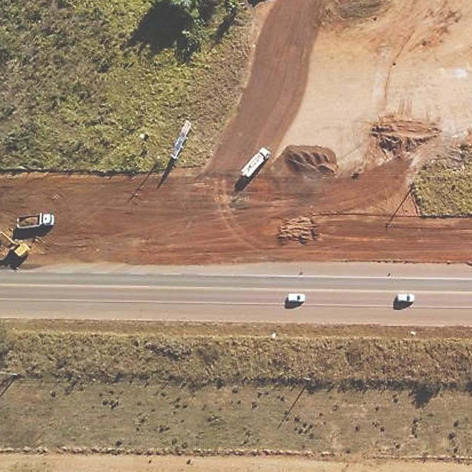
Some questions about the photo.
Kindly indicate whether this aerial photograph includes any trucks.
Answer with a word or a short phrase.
Yes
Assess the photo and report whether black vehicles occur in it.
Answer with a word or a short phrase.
No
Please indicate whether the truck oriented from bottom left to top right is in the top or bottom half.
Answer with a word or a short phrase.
top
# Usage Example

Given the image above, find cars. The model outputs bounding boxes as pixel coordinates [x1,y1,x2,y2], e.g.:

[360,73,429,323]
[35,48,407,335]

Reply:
[288,293,306,302]
[398,294,415,302]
